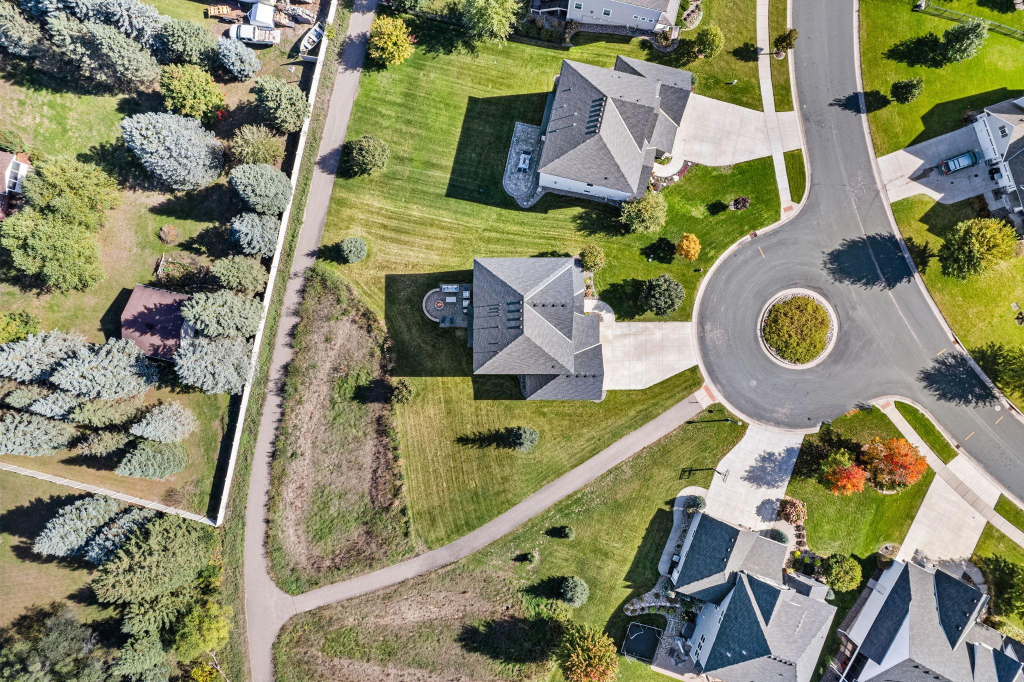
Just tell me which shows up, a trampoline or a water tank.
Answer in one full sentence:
Of the two, only a trampoline appears.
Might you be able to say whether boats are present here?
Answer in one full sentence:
Yes, looking at the shot, I can spot a boat.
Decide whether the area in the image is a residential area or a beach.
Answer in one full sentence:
The area seen from above is a residential area.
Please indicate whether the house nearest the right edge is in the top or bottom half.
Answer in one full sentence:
You can find the house nearest the right edge in the top half.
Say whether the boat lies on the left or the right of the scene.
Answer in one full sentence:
You can find the boat on the left side of the picture.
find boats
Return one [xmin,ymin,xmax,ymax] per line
[296,21,320,54]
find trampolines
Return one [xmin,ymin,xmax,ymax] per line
[621,621,663,662]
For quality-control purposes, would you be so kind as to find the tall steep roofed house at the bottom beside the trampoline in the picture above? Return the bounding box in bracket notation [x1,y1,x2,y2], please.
[672,512,837,682]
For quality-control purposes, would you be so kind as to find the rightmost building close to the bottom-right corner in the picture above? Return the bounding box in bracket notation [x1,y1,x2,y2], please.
[844,560,1024,682]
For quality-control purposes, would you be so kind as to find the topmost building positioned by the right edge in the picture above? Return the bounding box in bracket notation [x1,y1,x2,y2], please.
[972,93,1024,219]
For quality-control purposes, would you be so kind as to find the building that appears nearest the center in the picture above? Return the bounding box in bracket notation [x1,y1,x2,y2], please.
[468,257,604,400]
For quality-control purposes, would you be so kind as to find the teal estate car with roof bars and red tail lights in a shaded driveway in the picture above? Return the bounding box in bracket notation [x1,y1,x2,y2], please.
[942,149,983,176]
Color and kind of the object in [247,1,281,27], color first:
white trailer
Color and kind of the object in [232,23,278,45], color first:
white truck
